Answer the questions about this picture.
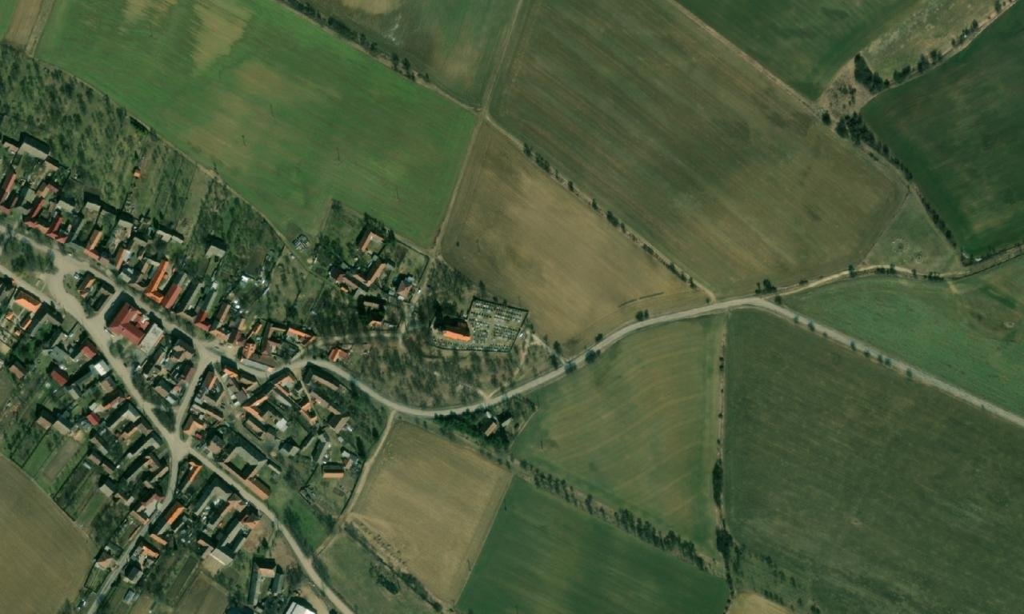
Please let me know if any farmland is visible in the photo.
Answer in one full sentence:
Yes, farmland shows up in the scene.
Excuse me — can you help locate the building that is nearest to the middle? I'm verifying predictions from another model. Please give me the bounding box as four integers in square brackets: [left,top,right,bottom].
[438,325,475,341]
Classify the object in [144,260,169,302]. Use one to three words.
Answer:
house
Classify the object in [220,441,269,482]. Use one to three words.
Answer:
barn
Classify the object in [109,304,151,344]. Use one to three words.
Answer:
building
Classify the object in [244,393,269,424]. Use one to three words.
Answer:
house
